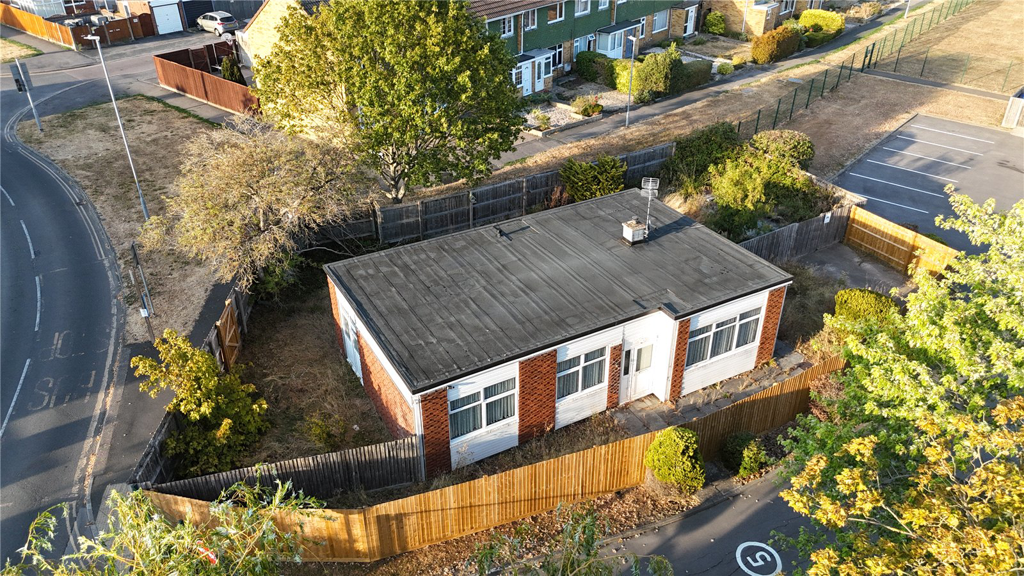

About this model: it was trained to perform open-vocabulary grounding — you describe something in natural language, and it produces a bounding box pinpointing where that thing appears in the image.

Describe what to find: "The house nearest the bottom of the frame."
[324,188,796,478]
